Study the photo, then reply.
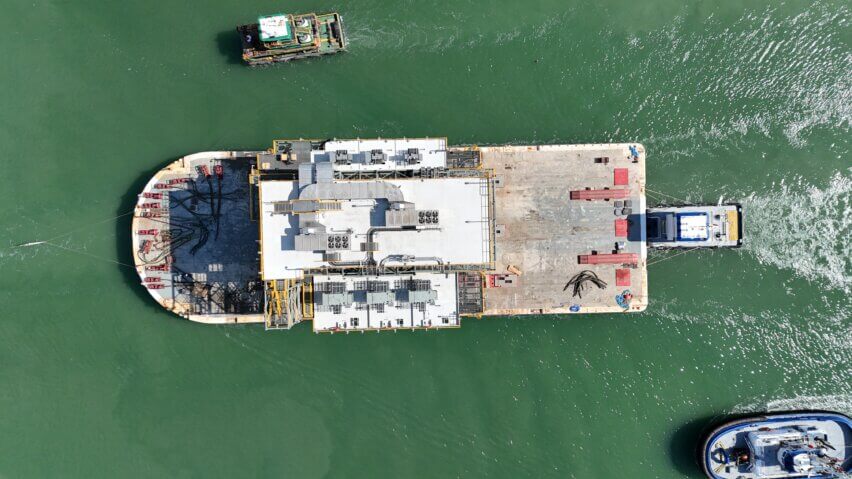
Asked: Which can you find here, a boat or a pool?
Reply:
boat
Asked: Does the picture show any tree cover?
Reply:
No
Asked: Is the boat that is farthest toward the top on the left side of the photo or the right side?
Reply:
left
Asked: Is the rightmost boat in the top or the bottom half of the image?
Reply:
bottom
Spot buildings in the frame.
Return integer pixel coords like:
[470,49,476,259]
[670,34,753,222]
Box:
[257,160,492,280]
[312,273,460,336]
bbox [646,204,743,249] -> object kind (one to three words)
boat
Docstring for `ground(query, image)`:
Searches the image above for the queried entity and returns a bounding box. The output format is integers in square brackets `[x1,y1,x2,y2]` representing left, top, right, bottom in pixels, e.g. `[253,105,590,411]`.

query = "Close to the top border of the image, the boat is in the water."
[240,9,343,69]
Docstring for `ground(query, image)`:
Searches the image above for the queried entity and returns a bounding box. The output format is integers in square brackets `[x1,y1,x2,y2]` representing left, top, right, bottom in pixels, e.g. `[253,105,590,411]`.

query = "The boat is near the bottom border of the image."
[697,408,852,479]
